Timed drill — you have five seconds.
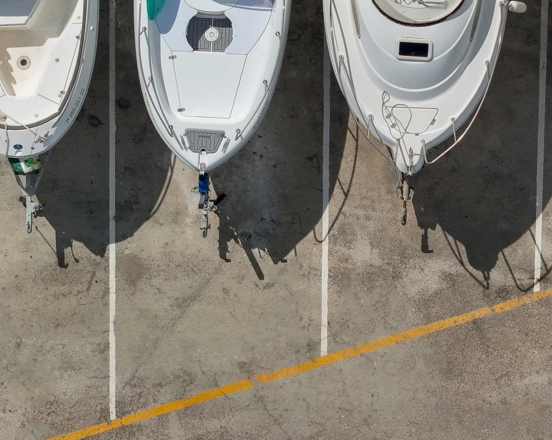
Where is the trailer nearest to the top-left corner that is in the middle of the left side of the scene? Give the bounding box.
[6,151,52,248]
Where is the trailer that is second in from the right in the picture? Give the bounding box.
[188,169,224,238]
